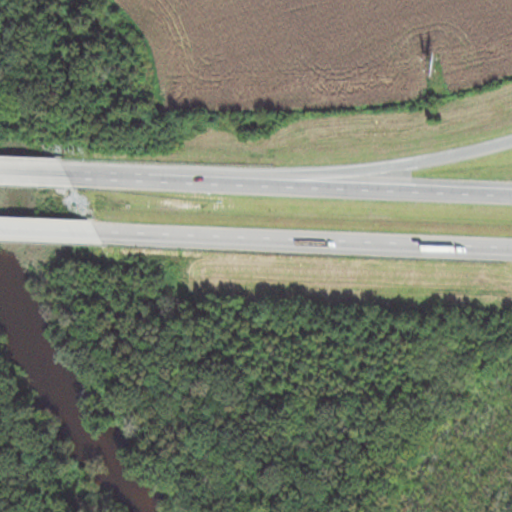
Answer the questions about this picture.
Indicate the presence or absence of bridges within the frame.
Yes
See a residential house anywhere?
No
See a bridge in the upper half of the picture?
Yes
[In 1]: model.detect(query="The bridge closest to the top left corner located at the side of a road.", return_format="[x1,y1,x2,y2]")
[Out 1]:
[0,156,76,188]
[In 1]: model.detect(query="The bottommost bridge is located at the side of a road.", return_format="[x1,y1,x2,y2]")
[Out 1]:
[0,216,104,245]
